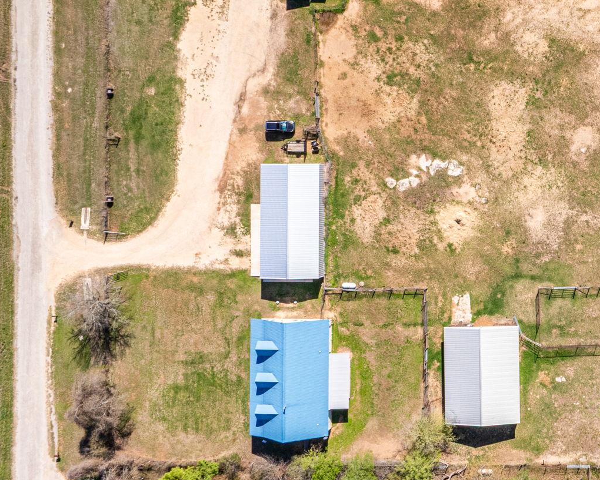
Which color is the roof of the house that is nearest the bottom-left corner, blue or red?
blue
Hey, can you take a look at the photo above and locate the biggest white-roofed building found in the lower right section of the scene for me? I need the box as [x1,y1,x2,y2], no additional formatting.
[445,325,520,427]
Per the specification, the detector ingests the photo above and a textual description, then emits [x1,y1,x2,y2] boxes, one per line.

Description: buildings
[260,162,325,281]
[248,316,349,442]
[445,325,520,427]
